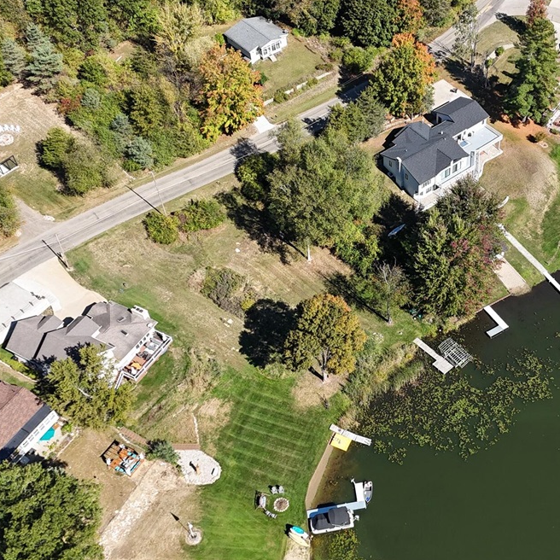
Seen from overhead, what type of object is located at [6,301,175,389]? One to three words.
house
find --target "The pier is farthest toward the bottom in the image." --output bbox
[306,481,367,516]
